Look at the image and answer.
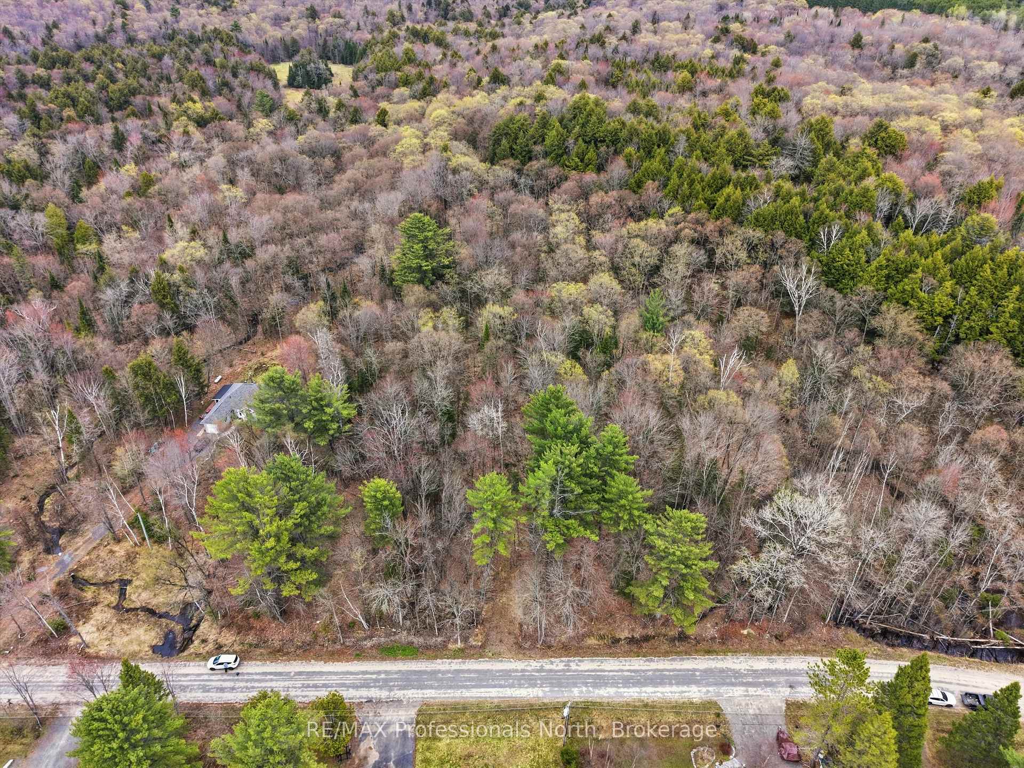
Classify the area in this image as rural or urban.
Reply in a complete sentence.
From above, the setting appears rural.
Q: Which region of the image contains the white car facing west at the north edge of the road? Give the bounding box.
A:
[206,656,242,674]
